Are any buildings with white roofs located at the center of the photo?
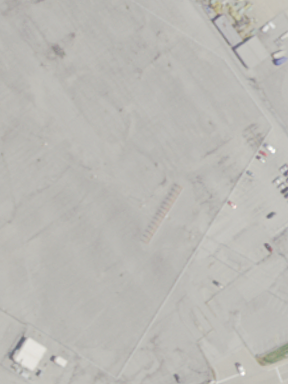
No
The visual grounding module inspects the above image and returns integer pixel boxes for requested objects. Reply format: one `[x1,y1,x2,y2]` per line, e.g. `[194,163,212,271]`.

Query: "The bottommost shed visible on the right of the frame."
[236,36,270,68]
